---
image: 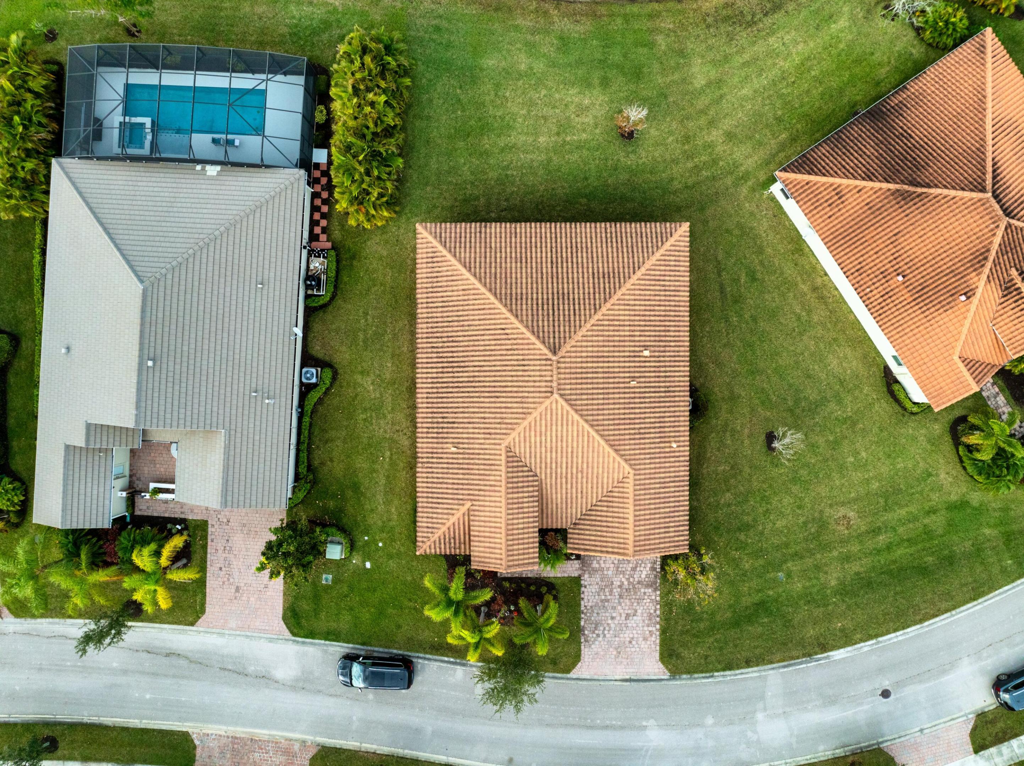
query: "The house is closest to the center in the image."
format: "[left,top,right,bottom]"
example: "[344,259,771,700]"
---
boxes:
[414,220,691,574]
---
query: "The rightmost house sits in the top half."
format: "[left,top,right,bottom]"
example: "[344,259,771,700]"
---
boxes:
[762,24,1024,412]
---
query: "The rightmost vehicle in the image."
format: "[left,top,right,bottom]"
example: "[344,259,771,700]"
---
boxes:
[991,668,1024,714]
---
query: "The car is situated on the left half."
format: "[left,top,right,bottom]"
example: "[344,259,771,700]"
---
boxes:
[336,651,415,693]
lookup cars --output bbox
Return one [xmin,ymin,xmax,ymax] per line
[336,651,415,693]
[991,668,1024,714]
